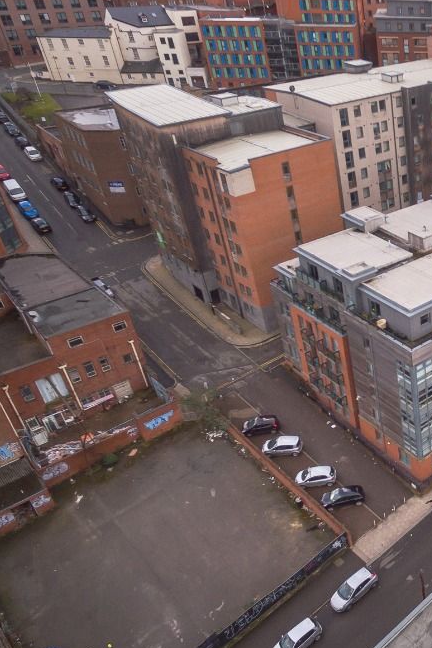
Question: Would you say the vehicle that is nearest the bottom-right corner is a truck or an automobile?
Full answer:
Specifically, the vehicle that is nearest the bottom-right corner is an automobile.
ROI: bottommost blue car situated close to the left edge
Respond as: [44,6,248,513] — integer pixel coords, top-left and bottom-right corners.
[16,199,39,219]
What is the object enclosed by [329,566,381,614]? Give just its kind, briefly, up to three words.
car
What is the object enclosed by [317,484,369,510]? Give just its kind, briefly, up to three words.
car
